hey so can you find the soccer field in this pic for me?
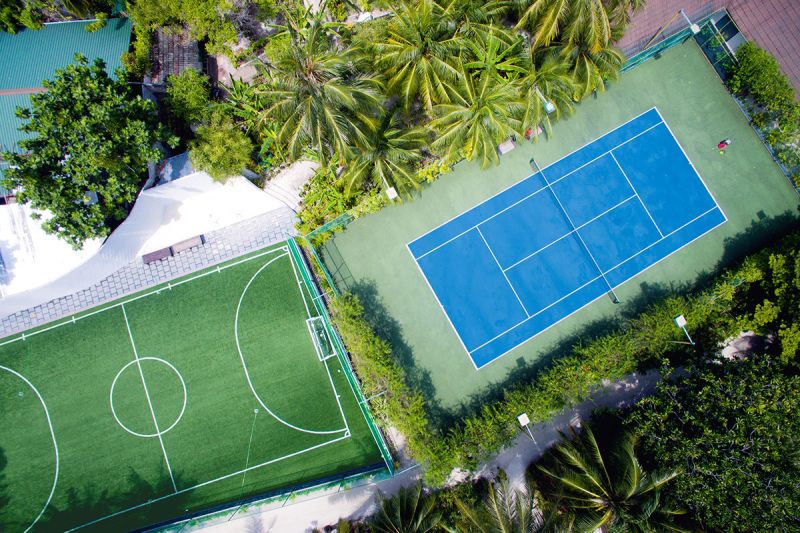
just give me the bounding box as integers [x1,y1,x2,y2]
[0,244,385,533]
